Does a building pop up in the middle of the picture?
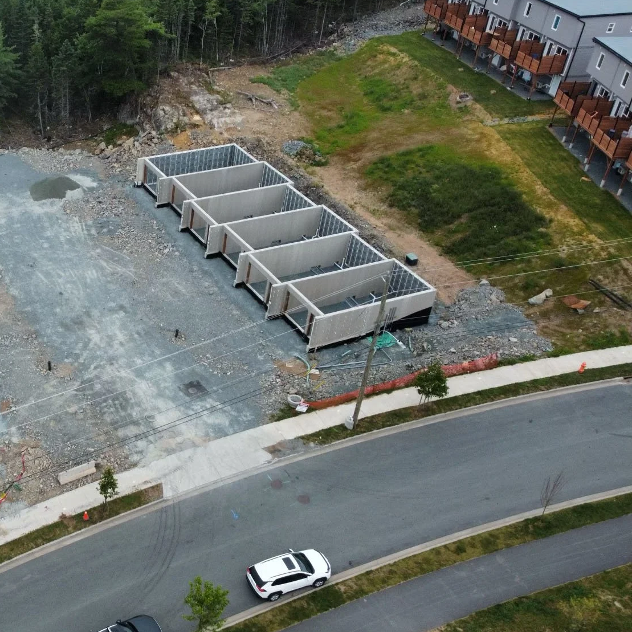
No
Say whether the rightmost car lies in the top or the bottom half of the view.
bottom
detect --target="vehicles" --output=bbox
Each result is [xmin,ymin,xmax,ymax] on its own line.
[250,552,333,602]
[102,618,168,632]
